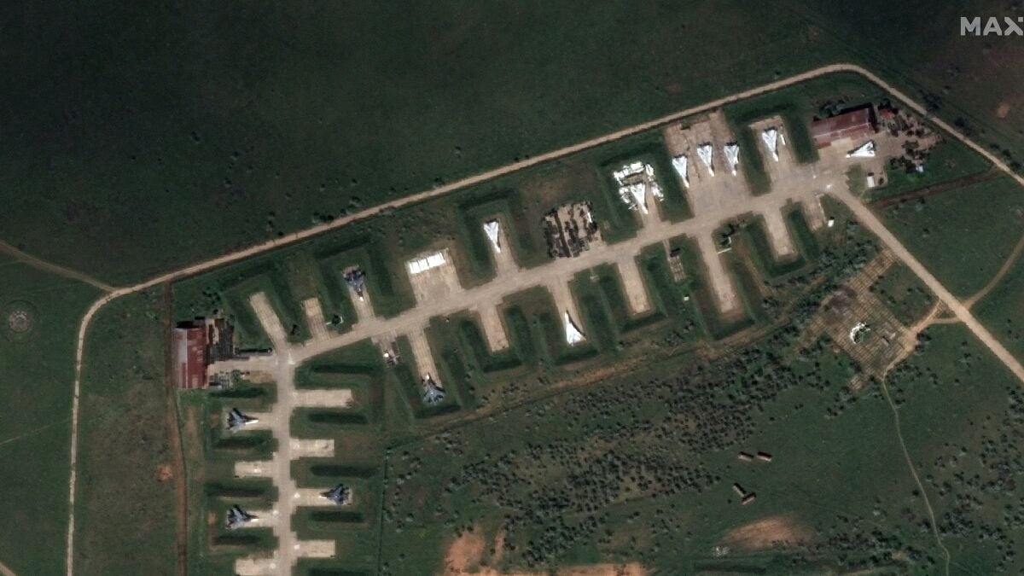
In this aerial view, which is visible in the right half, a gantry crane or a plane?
plane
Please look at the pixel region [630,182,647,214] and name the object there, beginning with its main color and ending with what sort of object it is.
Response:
white airplane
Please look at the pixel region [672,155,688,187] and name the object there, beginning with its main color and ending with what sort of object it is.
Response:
white airplane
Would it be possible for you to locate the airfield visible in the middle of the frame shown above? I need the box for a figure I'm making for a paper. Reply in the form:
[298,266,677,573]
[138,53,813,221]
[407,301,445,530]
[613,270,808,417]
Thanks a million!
[201,97,941,576]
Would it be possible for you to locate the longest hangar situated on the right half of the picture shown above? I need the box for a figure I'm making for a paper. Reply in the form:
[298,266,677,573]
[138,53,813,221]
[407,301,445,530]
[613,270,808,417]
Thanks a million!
[811,107,876,149]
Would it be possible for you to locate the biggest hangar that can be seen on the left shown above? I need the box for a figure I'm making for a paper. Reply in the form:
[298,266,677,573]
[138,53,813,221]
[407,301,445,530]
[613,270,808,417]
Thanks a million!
[173,326,207,388]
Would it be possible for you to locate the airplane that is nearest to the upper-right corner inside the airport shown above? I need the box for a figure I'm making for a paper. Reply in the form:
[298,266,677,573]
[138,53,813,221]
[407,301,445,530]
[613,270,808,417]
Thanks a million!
[848,142,878,157]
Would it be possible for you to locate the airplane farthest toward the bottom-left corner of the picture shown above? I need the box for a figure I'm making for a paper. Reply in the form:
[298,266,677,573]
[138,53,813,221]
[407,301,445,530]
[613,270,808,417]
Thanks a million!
[228,508,257,528]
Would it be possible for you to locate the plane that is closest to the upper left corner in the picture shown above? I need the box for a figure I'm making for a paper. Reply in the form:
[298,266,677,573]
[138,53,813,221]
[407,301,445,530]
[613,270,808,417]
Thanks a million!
[344,269,364,297]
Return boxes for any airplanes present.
[423,375,443,405]
[724,145,740,176]
[763,129,778,161]
[630,182,647,214]
[484,220,499,251]
[321,485,350,506]
[228,410,257,430]
[228,508,257,528]
[566,313,585,345]
[344,269,364,297]
[848,142,878,157]
[672,155,688,187]
[698,145,713,176]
